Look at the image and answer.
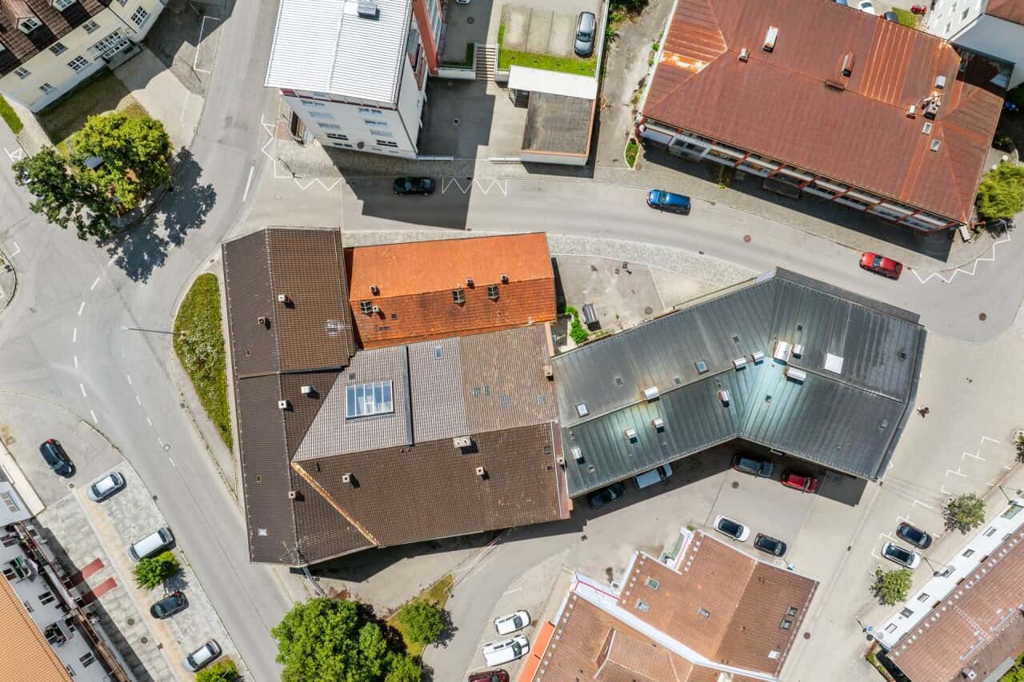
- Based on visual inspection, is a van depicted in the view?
Yes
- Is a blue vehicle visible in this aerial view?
Yes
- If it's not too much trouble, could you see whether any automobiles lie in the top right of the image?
Yes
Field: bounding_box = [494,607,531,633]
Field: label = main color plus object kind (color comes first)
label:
white car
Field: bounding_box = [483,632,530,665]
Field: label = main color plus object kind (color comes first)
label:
white van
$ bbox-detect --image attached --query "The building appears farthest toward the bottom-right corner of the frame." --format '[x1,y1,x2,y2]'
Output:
[879,503,1024,682]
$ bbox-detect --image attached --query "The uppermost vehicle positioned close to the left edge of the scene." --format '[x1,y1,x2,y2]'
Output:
[42,436,77,477]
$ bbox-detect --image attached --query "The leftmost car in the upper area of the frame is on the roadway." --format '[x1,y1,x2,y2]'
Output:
[395,175,435,196]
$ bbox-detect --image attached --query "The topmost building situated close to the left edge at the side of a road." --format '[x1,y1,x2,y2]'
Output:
[0,0,171,112]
